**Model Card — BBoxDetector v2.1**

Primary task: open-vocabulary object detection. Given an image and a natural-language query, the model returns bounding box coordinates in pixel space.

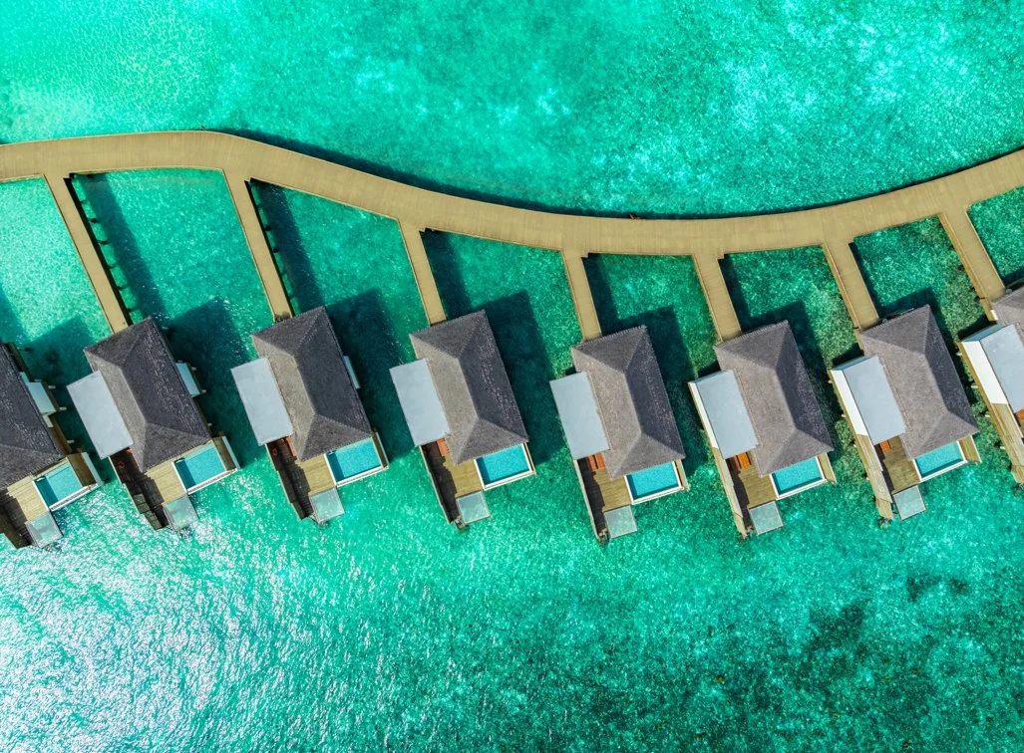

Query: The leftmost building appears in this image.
[0,334,108,550]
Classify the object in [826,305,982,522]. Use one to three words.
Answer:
house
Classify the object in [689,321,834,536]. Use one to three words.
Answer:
house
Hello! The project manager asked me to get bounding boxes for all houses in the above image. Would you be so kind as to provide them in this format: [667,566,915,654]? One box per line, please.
[826,305,982,522]
[0,334,108,550]
[234,307,392,523]
[954,275,1024,477]
[392,310,538,526]
[67,316,246,532]
[689,321,834,536]
[551,326,687,539]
